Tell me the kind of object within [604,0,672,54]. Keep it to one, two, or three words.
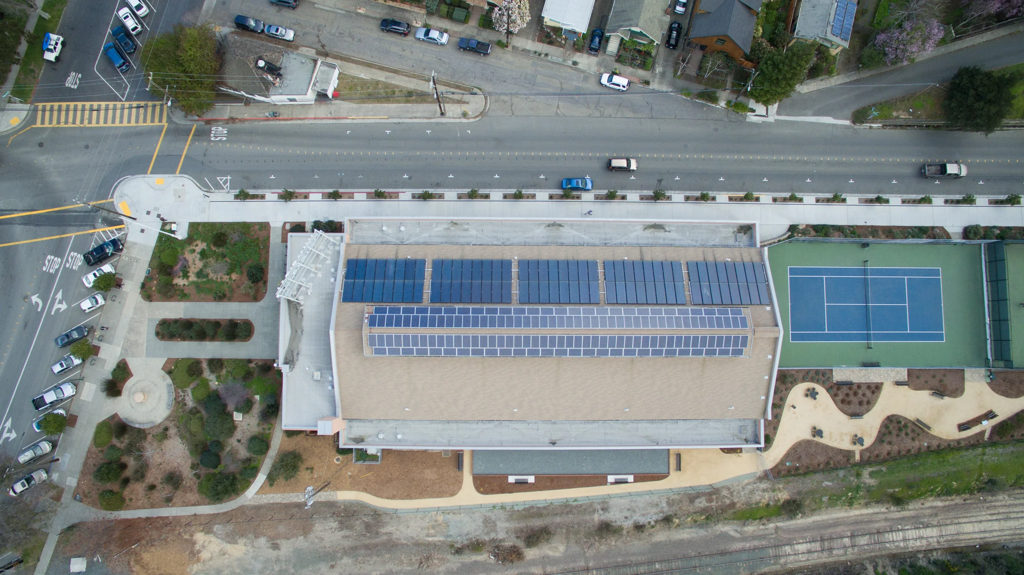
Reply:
house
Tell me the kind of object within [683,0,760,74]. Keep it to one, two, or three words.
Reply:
house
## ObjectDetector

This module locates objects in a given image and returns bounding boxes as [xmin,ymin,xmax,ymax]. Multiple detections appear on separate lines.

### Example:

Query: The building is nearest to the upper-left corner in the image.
[214,35,342,107]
